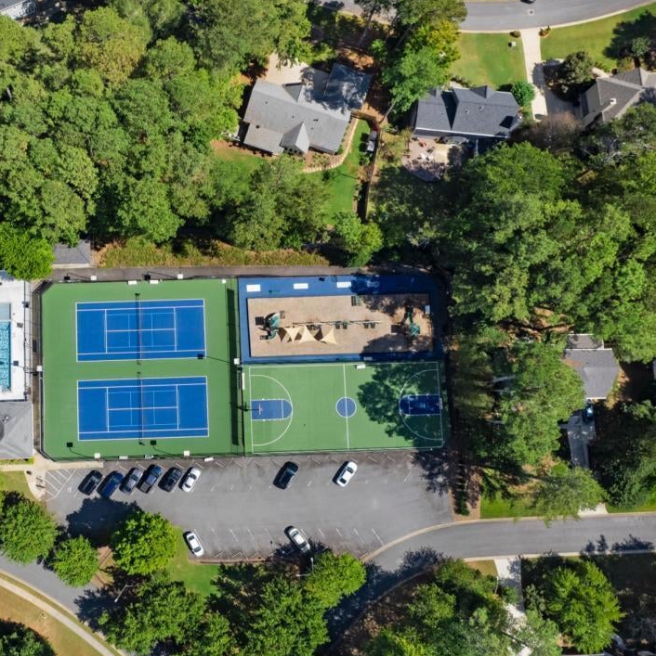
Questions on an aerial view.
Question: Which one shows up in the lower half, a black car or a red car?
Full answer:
Looking in the lower half, you will find a black car.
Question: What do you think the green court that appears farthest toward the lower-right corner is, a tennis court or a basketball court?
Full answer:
From above, the green court that appears farthest toward the lower-right corner can be identified as a basketball court.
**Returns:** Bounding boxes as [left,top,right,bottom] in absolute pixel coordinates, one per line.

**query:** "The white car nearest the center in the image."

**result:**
[336,460,356,488]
